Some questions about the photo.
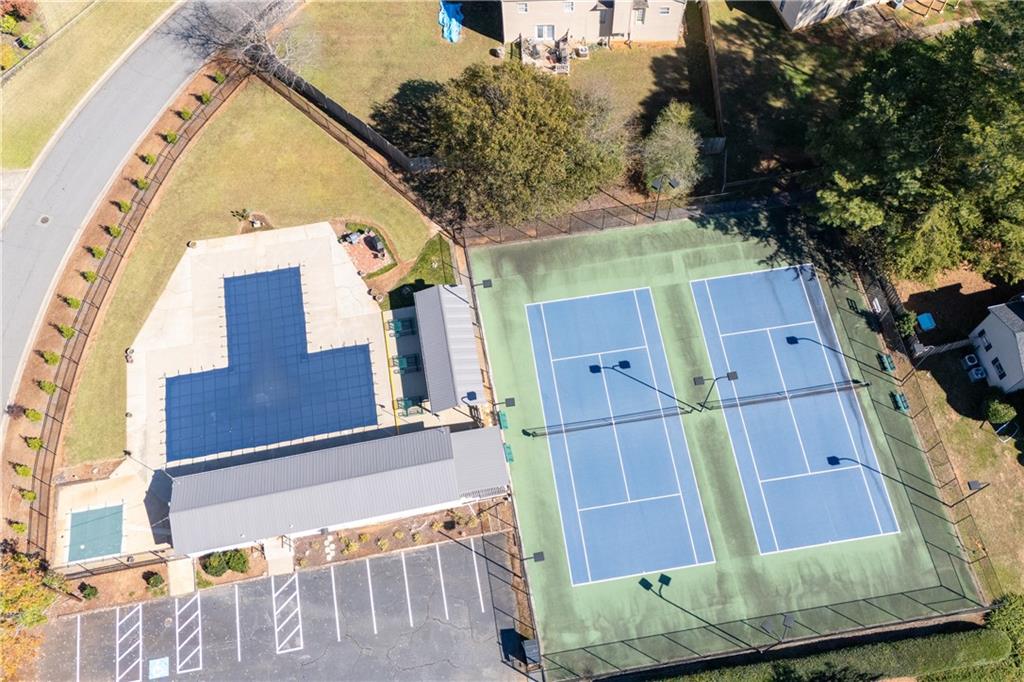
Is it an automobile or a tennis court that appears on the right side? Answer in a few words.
tennis court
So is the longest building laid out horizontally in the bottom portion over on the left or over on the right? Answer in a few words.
left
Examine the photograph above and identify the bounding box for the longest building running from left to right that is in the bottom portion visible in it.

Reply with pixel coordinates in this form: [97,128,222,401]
[170,425,463,556]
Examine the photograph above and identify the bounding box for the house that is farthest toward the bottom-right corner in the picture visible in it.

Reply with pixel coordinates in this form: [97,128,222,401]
[970,299,1024,394]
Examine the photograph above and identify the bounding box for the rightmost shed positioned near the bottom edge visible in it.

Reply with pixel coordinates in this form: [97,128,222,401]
[518,638,545,673]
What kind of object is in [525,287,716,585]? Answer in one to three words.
tennis court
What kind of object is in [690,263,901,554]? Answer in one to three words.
tennis court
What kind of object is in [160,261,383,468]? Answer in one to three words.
swimming pool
